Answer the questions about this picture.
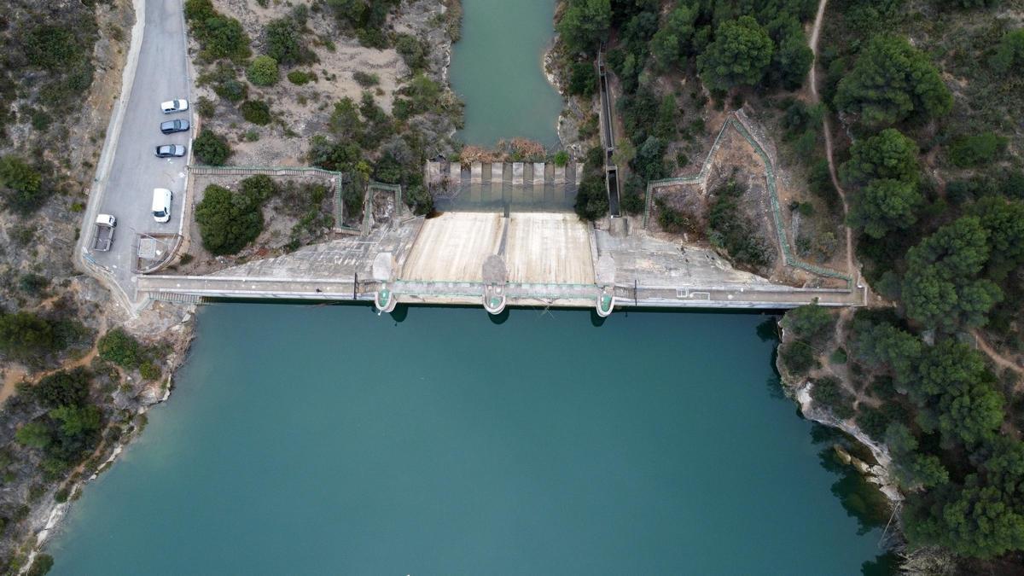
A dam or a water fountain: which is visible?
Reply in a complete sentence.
The image shows a dam.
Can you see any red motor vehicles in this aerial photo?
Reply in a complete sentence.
No, no red motor vehicle is visible in the scene.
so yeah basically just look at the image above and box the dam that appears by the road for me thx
[138,152,870,320]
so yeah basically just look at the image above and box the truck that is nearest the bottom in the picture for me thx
[92,214,115,252]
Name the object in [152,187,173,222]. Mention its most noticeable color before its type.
white vehicle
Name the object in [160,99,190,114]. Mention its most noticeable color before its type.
white car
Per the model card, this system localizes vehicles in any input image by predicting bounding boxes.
[160,99,190,114]
[152,187,173,222]
[155,143,187,158]
[160,118,191,135]
[92,214,115,252]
